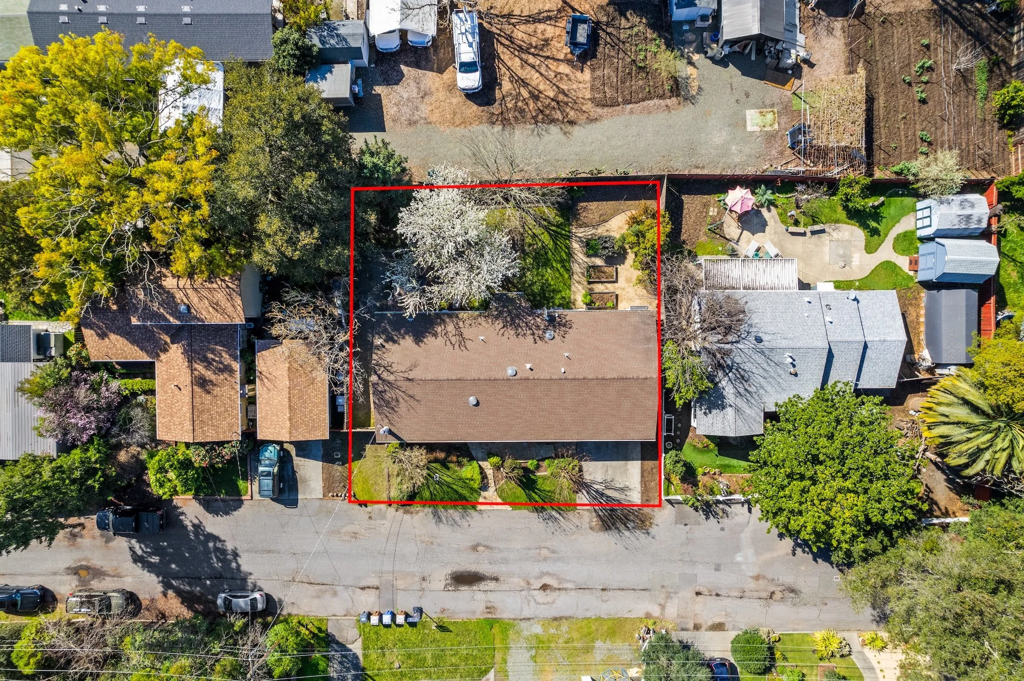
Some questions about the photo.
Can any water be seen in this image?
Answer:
No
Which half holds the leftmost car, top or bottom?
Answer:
bottom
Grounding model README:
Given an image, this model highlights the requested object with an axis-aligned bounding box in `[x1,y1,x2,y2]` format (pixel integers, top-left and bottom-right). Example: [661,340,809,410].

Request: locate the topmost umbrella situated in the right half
[703,184,755,232]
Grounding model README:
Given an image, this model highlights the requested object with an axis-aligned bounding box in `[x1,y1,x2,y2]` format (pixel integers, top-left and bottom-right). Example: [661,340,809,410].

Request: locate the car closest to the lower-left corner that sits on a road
[0,585,42,613]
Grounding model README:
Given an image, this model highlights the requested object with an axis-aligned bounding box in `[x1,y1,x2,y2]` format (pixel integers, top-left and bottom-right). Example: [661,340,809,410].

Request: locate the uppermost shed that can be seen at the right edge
[916,196,991,241]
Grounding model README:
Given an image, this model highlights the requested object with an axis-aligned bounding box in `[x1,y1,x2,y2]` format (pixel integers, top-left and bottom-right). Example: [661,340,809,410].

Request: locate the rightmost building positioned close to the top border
[717,0,805,53]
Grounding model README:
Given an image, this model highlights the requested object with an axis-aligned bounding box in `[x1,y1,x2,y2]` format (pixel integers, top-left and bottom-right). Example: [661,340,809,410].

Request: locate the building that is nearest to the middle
[373,292,660,442]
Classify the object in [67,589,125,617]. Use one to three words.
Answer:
car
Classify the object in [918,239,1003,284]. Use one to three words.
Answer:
shed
